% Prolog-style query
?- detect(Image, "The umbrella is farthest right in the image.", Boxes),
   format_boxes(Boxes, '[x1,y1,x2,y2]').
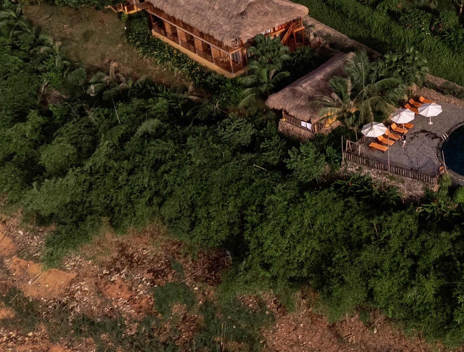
[418,100,442,125]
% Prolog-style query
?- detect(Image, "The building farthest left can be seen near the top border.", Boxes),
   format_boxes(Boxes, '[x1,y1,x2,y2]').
[140,0,305,79]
